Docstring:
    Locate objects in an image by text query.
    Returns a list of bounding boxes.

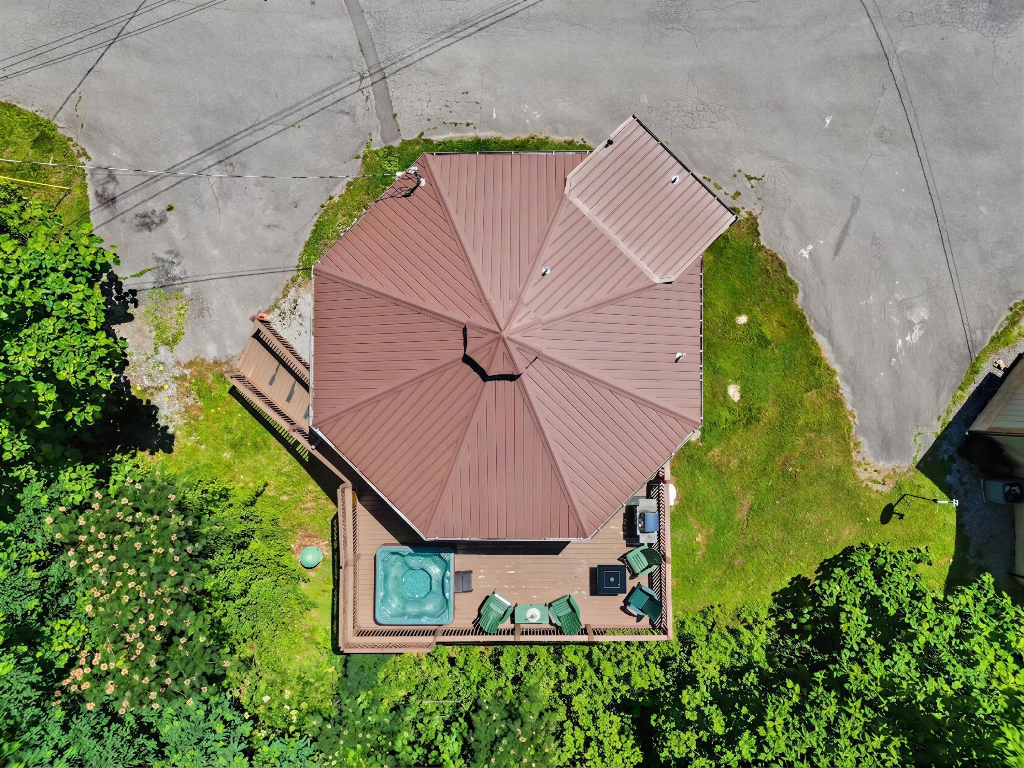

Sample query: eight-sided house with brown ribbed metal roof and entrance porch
[310,113,738,541]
